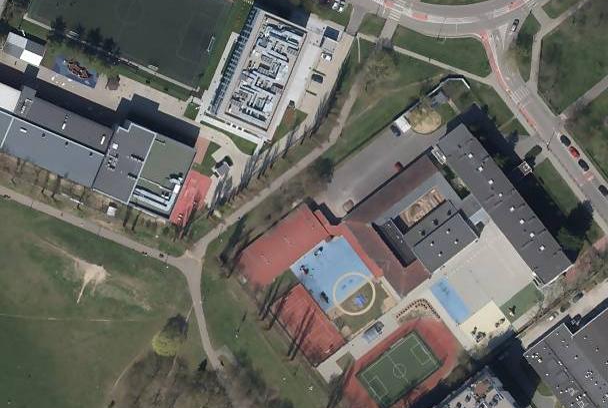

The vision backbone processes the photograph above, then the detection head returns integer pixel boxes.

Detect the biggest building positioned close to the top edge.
[210,6,309,141]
